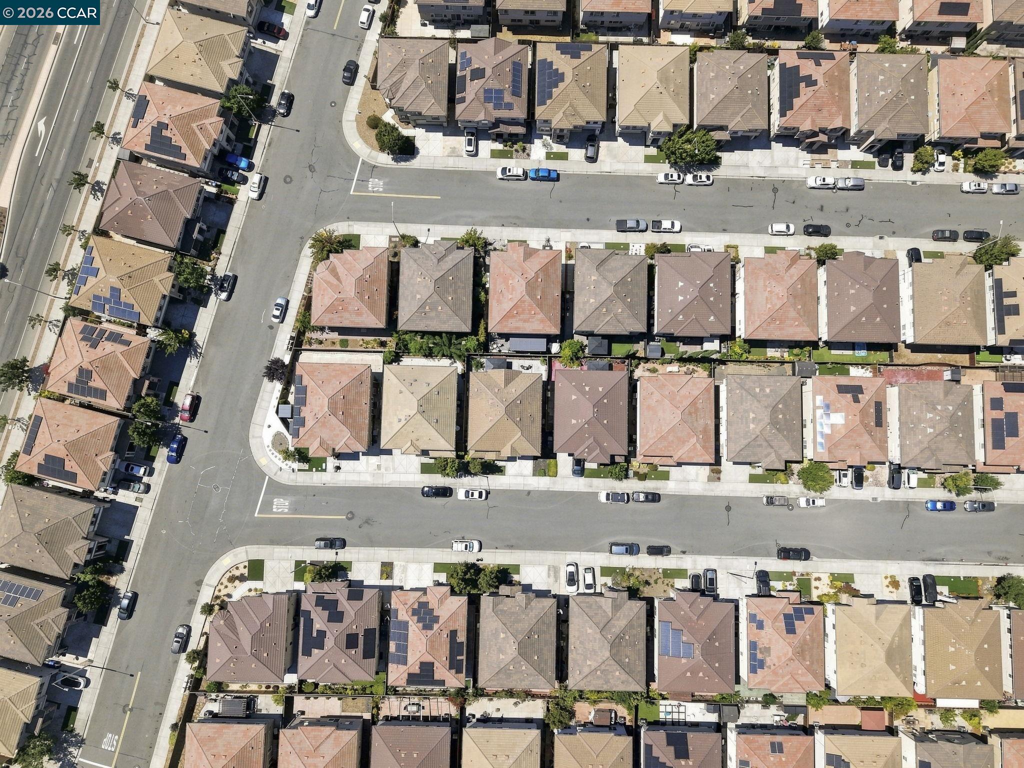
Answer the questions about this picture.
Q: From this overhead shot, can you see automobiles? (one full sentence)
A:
Yes, there is an automobile in the image.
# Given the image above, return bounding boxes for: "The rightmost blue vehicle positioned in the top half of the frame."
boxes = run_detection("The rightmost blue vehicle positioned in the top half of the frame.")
[528,168,560,182]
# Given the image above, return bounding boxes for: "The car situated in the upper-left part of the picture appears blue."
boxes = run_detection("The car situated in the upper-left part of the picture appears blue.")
[226,154,255,171]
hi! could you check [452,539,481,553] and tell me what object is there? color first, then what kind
white vehicle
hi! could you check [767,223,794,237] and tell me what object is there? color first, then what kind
white car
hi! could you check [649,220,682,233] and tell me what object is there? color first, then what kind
white vehicle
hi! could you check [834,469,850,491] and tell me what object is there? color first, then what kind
white car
